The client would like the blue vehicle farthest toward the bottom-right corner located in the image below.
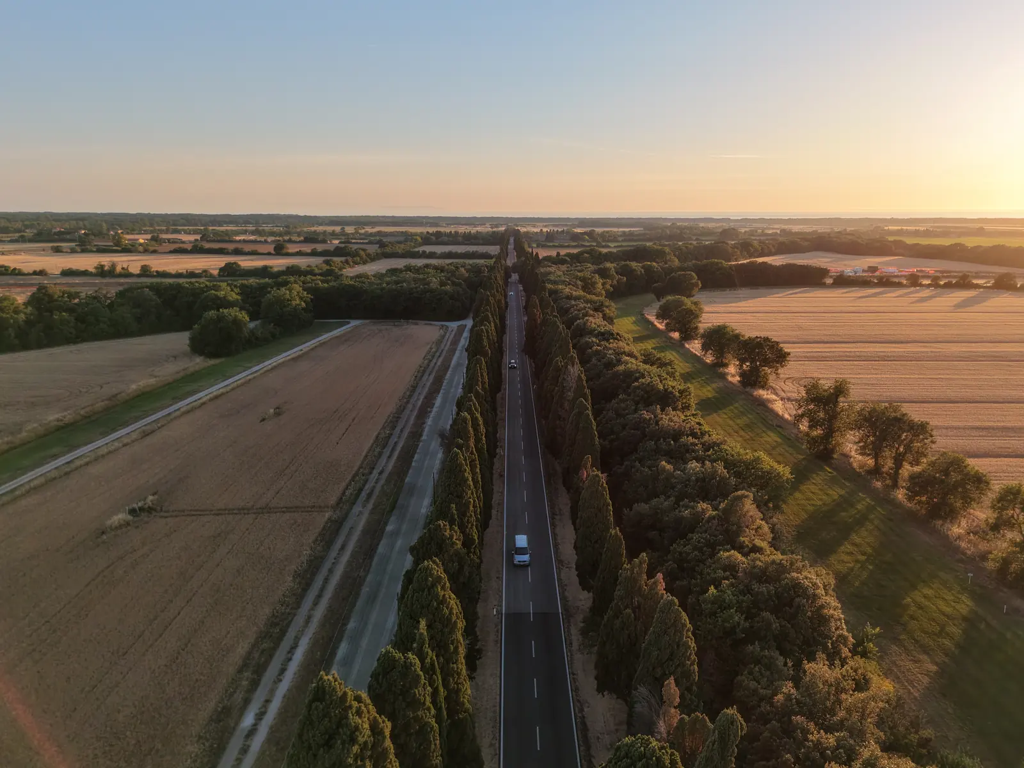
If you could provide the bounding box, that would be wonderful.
[512,535,532,564]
